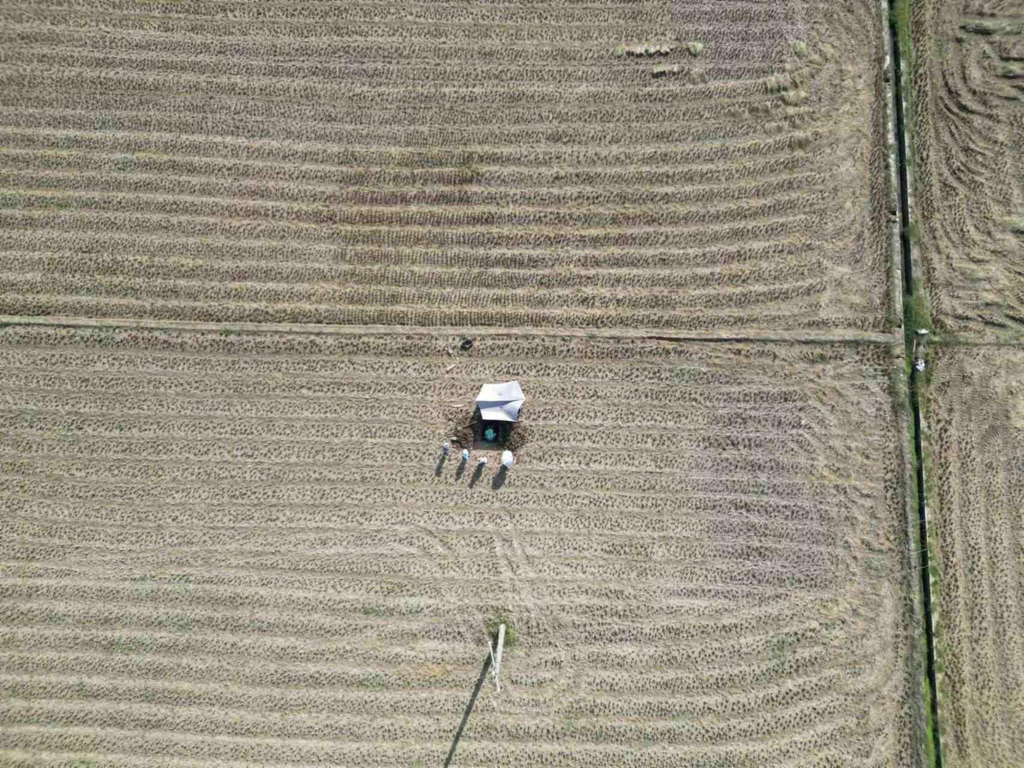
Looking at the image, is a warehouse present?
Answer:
No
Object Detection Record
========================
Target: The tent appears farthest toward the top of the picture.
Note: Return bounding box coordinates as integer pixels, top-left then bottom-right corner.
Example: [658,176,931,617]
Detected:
[475,380,526,421]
